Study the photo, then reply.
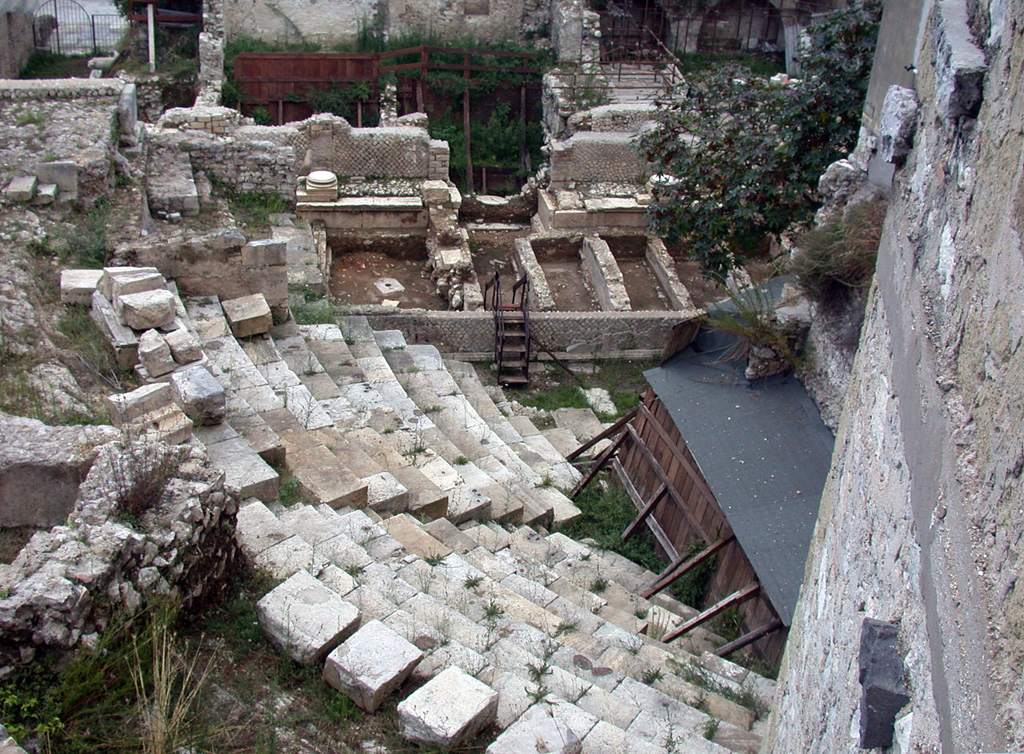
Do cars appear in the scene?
No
